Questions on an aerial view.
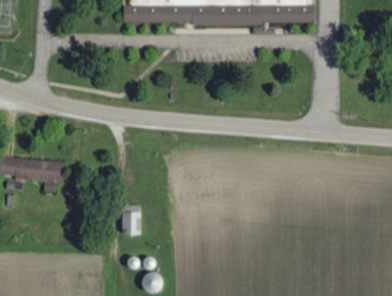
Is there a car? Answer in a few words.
No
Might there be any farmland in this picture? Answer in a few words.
Yes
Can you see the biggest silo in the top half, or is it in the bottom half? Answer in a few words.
bottom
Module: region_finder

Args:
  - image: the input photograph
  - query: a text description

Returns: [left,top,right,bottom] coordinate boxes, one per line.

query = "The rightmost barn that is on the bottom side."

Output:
[122,201,142,238]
